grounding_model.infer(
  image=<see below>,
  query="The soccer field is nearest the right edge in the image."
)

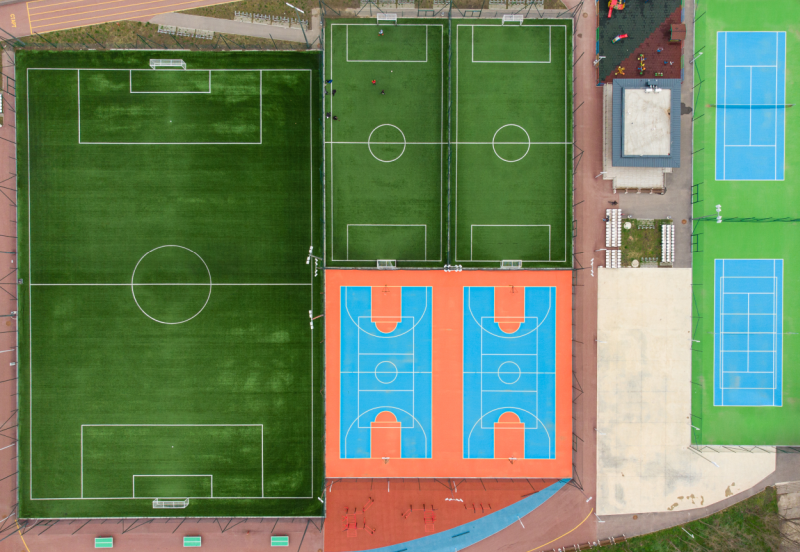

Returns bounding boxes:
[449,19,573,267]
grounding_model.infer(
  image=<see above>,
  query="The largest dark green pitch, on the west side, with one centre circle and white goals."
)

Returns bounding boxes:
[16,51,324,518]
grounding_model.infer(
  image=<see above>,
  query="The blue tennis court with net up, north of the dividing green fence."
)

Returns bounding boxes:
[693,0,800,219]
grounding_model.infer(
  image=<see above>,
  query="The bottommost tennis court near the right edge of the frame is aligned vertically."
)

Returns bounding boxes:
[693,219,800,445]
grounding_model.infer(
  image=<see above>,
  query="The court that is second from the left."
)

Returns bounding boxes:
[448,269,573,479]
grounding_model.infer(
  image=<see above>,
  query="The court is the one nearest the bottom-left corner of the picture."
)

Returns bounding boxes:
[326,269,448,479]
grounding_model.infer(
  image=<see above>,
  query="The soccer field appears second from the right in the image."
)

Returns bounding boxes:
[326,19,446,267]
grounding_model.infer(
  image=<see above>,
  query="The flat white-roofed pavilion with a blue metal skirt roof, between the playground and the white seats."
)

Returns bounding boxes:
[598,78,680,194]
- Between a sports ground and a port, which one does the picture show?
sports ground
